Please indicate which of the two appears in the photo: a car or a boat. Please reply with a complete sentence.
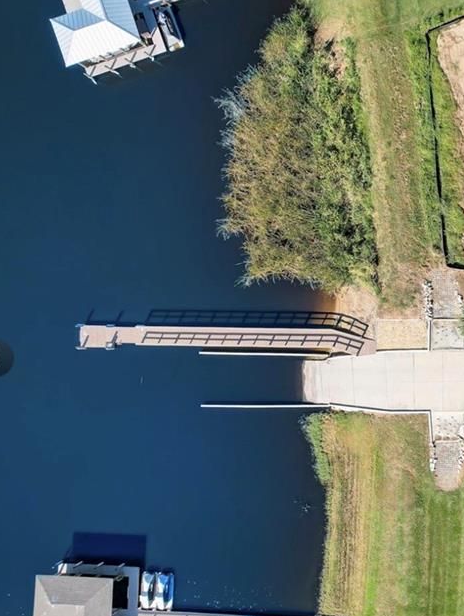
Looking from above, you can make out a boat.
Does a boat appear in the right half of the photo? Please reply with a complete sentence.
No, looking in the right half of the photo, there is no boat.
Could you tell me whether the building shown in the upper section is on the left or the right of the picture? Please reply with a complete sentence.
The building shown in the upper section sits on the left side.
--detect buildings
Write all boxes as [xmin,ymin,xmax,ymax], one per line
[49,0,168,76]
[34,562,141,616]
